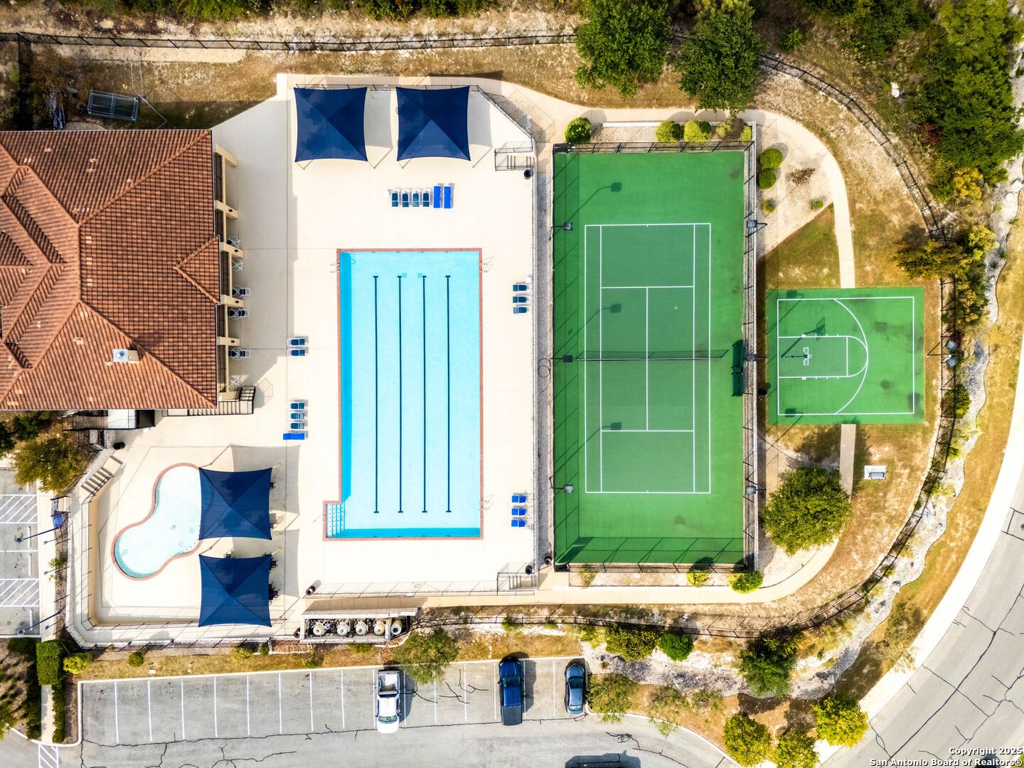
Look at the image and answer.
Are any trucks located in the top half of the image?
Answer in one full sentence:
No, the scene shows no truck in the top half of the image.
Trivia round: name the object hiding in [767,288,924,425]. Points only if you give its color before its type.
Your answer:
green basketball court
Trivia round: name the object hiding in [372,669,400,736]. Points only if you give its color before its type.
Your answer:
white truck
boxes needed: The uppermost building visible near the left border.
[0,128,244,412]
